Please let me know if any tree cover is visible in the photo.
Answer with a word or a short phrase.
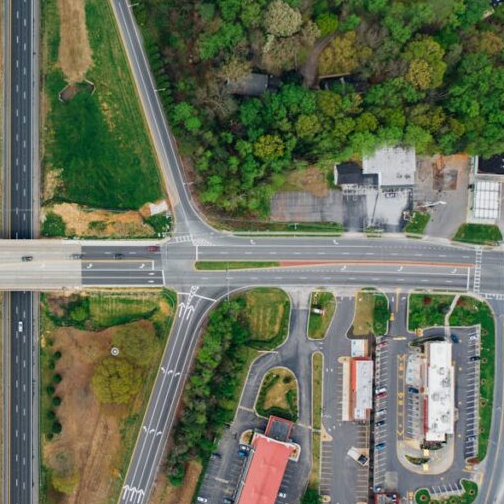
Yes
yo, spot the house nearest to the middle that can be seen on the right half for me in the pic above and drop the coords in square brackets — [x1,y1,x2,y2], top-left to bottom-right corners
[334,164,380,191]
